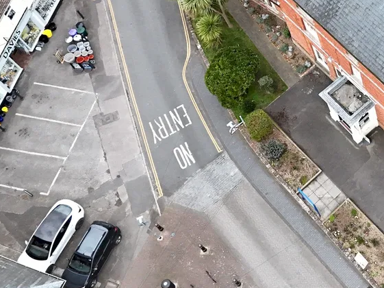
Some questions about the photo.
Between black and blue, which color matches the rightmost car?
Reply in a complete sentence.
The color of the rightmost car is black.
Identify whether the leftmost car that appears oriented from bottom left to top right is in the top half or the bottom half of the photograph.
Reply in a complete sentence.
The bottom half of the photo is where the leftmost car that appears oriented from bottom left to top right is.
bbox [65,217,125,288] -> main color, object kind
black car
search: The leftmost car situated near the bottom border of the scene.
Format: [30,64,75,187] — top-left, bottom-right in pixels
[25,197,90,274]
